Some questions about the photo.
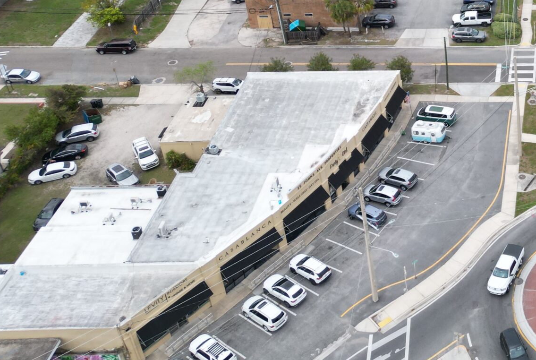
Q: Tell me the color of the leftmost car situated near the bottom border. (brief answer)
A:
white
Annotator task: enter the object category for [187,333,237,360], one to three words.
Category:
car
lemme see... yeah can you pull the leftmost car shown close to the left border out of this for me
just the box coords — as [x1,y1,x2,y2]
[0,68,43,85]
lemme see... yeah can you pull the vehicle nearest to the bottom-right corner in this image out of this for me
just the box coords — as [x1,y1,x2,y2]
[496,325,531,360]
